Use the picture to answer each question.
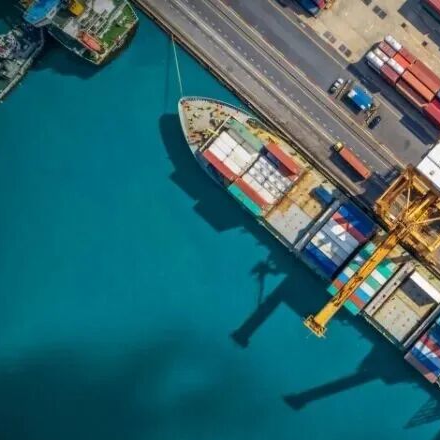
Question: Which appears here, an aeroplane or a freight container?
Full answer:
This aerial view contains a freight container.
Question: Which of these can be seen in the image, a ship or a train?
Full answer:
It is a ship that can be seen here.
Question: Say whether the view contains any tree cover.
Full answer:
No, no tree cover is visible.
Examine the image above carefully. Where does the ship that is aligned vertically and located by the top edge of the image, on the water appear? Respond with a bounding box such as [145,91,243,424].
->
[0,0,41,94]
